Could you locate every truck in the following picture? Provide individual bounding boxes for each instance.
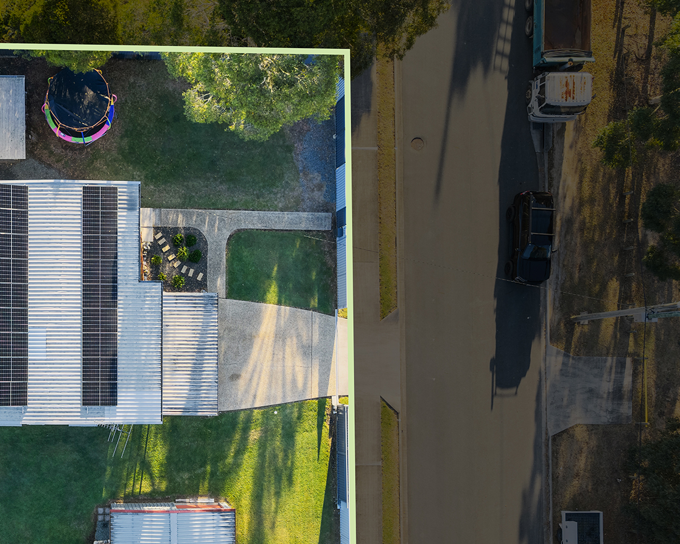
[553,510,602,544]
[512,0,594,122]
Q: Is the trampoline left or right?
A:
left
